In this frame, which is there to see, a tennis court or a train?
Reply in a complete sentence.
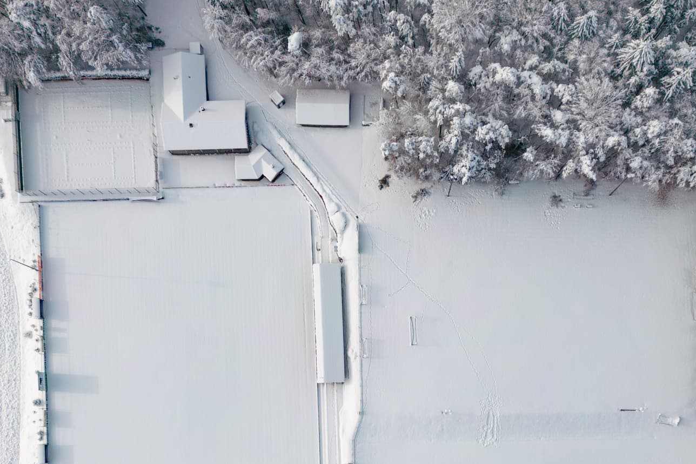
Looking from above, you can make out a tennis court.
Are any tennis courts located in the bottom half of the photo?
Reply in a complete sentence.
No, no tennis court can be made out in the bottom half of the photo.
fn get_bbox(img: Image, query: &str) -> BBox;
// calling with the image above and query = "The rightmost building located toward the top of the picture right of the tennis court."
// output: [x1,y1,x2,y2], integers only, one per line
[296,90,350,128]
